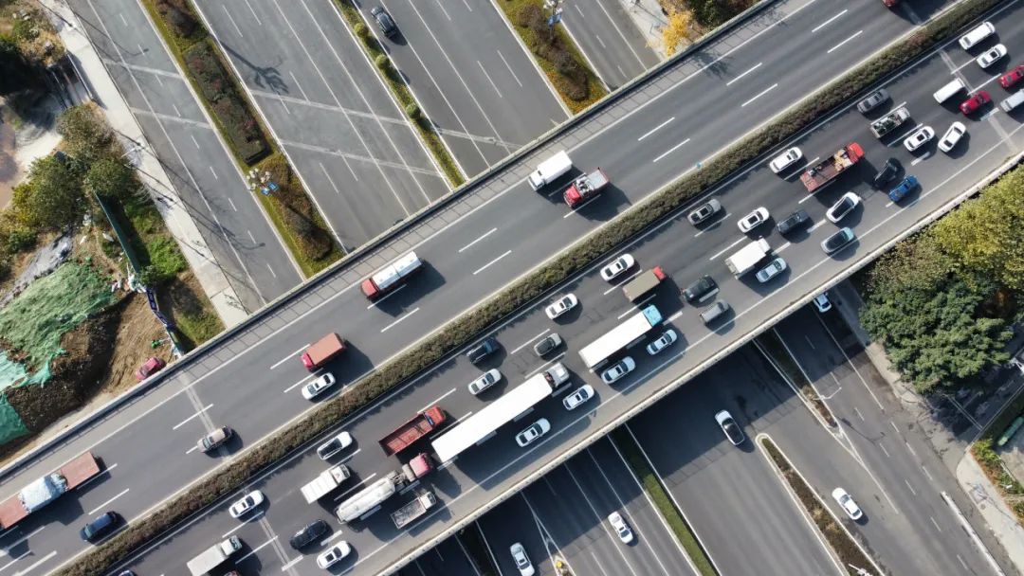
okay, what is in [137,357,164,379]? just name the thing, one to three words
car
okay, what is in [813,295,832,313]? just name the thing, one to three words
car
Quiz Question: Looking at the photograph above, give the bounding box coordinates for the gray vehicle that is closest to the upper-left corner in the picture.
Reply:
[372,7,394,37]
